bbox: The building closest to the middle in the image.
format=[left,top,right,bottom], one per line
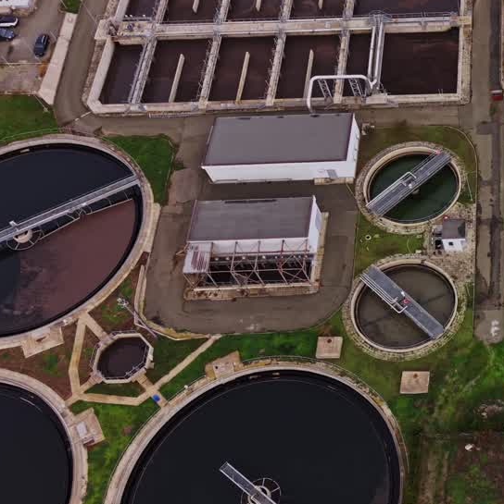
[177,195,320,288]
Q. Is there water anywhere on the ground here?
Yes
